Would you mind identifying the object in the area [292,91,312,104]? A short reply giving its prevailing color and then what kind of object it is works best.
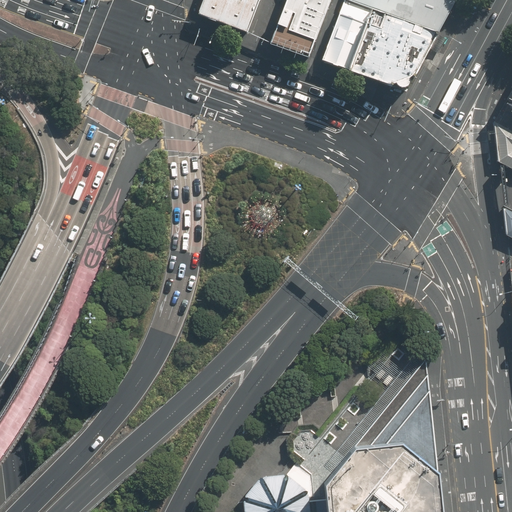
white vehicle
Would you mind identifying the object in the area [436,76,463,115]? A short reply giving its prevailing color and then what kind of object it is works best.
white bus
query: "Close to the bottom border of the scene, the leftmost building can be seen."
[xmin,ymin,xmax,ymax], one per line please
[242,474,310,512]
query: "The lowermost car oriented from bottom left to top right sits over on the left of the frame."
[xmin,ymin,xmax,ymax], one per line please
[90,436,104,450]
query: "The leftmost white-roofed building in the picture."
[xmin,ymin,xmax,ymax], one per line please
[199,0,262,33]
